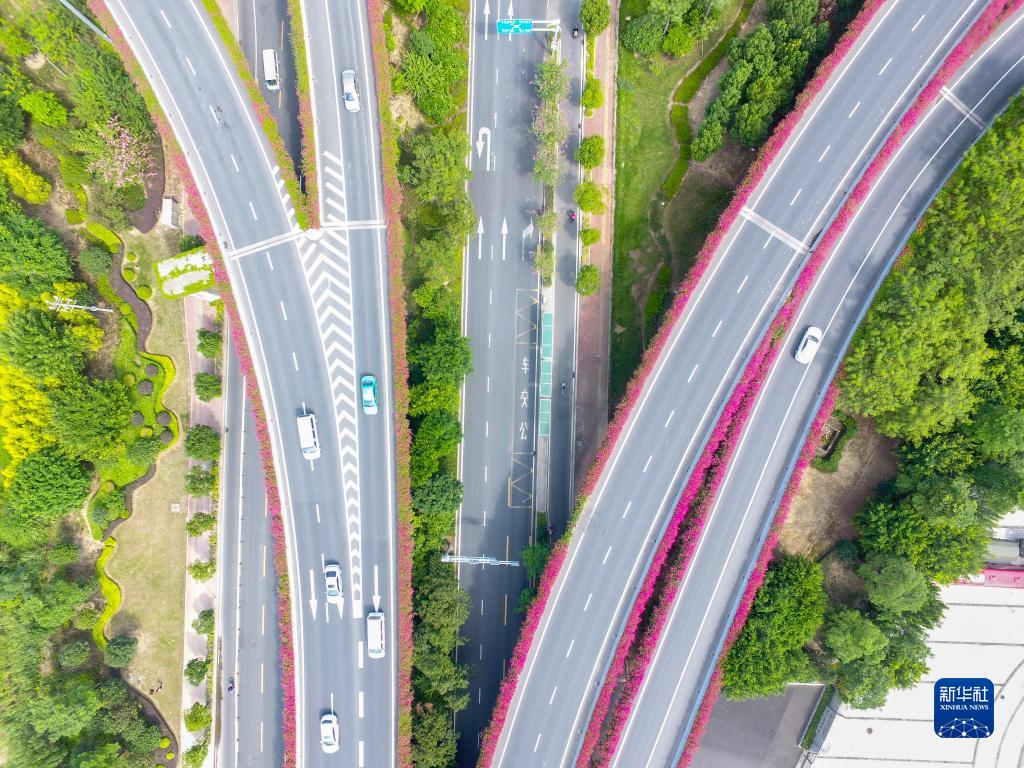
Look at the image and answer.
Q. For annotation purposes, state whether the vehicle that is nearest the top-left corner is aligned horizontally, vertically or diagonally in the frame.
vertically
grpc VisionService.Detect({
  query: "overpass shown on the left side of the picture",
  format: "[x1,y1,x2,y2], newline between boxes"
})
[101,0,407,768]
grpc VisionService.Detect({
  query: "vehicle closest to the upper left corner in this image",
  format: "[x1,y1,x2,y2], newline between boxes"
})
[261,46,281,91]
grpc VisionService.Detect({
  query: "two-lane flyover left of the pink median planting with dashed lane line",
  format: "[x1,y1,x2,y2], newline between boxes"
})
[484,0,995,768]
